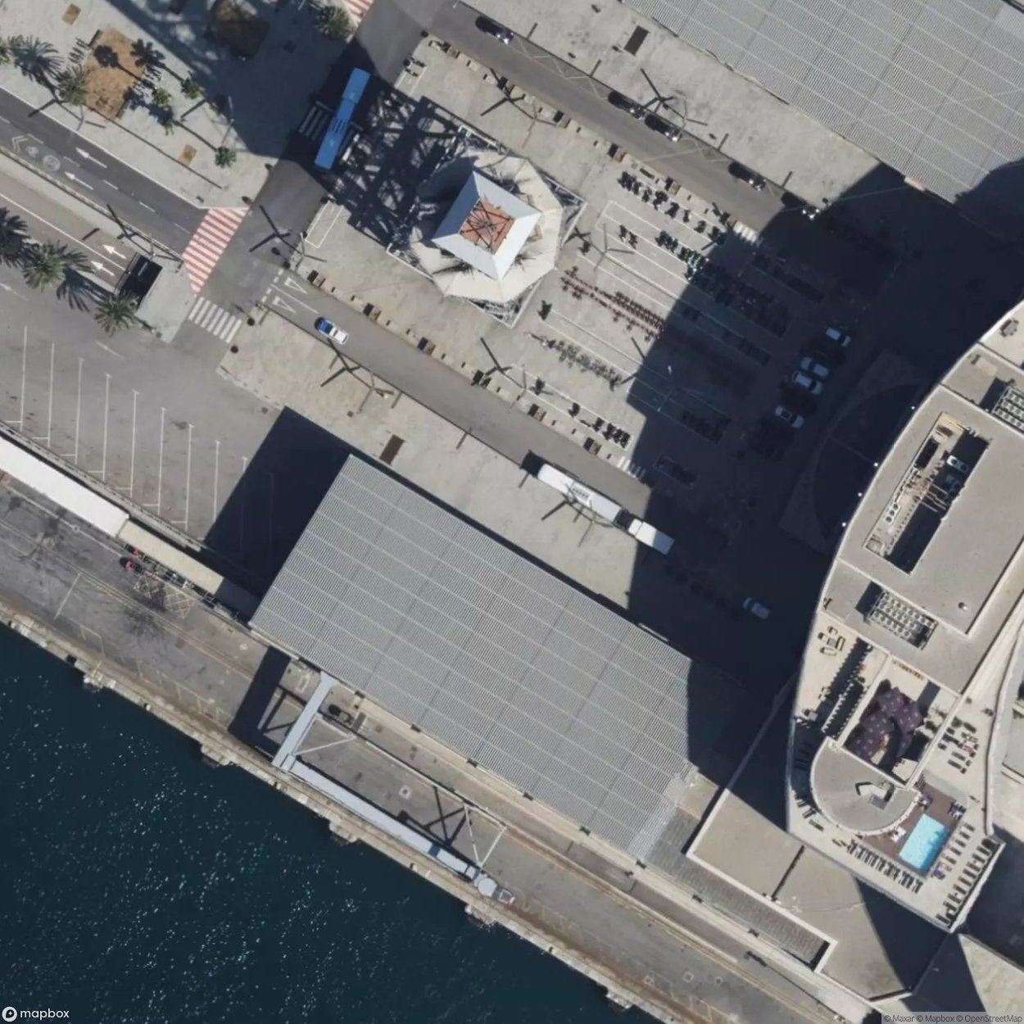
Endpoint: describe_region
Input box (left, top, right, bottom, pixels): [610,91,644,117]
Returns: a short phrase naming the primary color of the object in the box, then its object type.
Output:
black car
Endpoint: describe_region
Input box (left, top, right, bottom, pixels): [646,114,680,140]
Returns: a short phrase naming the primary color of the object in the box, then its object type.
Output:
black car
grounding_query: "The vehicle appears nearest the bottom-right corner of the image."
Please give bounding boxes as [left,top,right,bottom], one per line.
[740,596,772,621]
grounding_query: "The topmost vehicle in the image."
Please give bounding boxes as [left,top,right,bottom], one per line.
[478,16,512,42]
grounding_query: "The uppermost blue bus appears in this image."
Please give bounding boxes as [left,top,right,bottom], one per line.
[315,69,371,170]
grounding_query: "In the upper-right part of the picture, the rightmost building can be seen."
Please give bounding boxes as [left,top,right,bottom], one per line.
[622,0,1024,243]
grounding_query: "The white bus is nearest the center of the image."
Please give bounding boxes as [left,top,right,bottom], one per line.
[537,463,621,522]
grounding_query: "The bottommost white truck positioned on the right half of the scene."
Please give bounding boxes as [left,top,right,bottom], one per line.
[625,517,673,554]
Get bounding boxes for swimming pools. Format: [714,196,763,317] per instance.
[898,812,951,872]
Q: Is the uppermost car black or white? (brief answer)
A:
black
